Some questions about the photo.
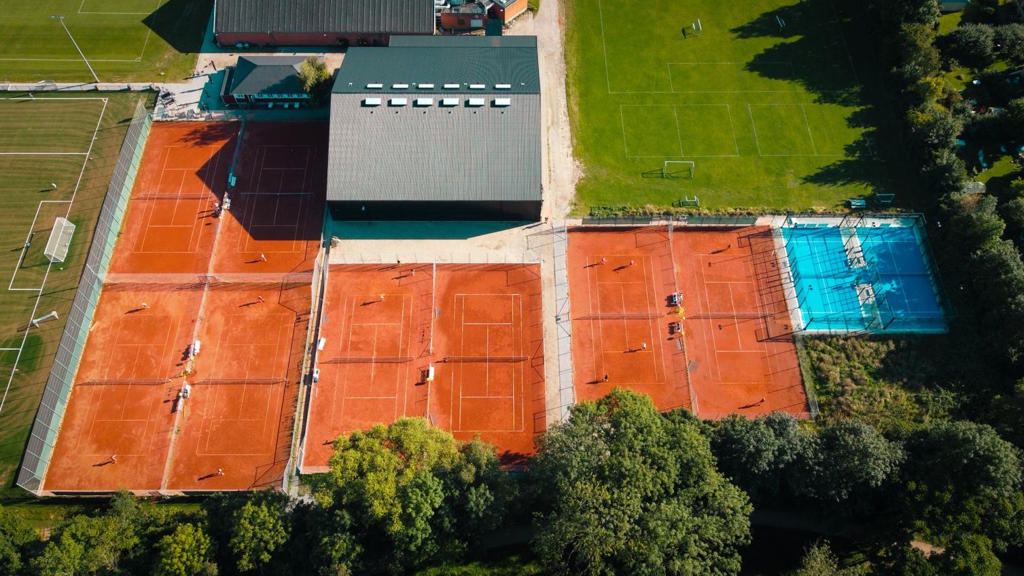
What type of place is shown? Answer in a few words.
sports ground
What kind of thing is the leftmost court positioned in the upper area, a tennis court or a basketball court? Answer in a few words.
tennis court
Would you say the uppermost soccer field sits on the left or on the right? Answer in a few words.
left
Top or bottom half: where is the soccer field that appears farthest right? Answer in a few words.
top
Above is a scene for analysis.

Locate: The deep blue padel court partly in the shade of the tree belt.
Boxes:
[855,214,959,330]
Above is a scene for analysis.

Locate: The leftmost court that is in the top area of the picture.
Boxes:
[105,122,239,284]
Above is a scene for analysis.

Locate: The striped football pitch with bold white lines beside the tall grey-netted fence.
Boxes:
[0,90,158,564]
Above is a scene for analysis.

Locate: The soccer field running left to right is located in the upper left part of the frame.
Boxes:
[0,0,211,83]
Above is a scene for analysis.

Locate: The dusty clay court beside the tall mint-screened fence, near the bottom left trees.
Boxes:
[43,283,205,491]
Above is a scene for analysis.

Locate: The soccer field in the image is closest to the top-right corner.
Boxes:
[575,0,899,205]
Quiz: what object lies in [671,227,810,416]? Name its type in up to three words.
tennis court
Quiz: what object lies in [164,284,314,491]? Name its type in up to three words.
tennis court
